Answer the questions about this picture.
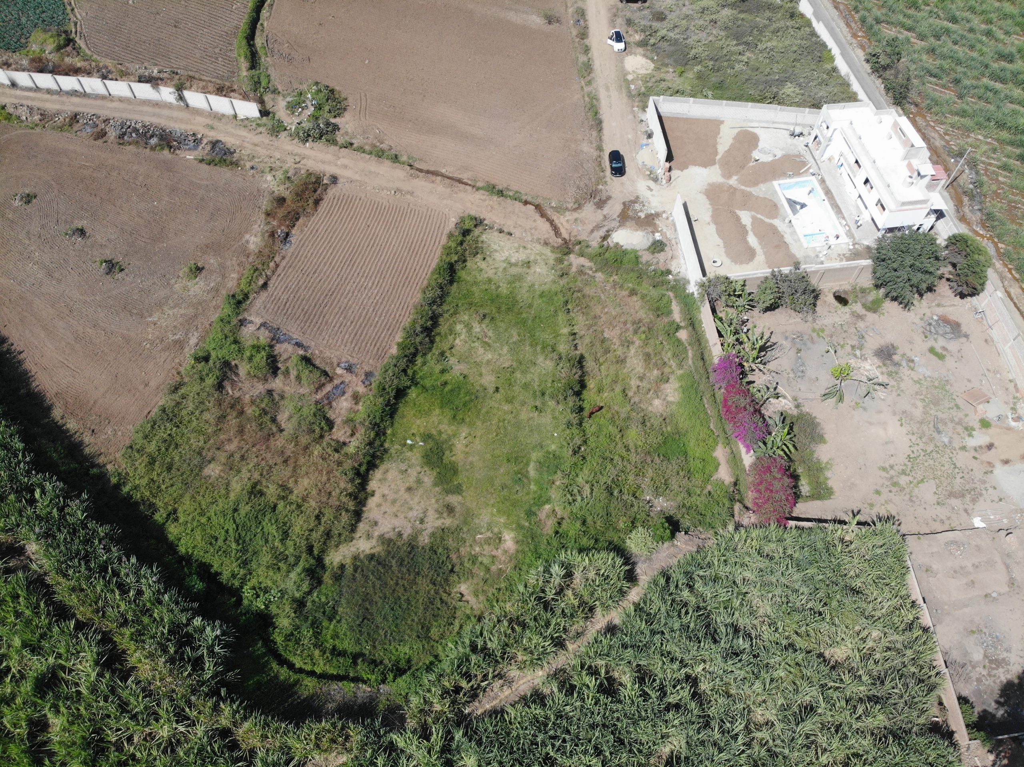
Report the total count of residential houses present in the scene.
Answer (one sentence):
The picture shows just 1 residential house.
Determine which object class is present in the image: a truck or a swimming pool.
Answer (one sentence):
There is a swimming pool in the scene.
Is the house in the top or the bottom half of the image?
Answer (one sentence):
You can find the house in the top half.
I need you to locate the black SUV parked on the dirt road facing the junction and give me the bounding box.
[608,149,625,175]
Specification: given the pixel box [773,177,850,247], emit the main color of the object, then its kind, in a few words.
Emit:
white swimming pool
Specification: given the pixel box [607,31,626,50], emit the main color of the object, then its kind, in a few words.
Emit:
white car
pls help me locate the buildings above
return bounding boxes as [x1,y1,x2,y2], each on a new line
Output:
[806,100,950,245]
